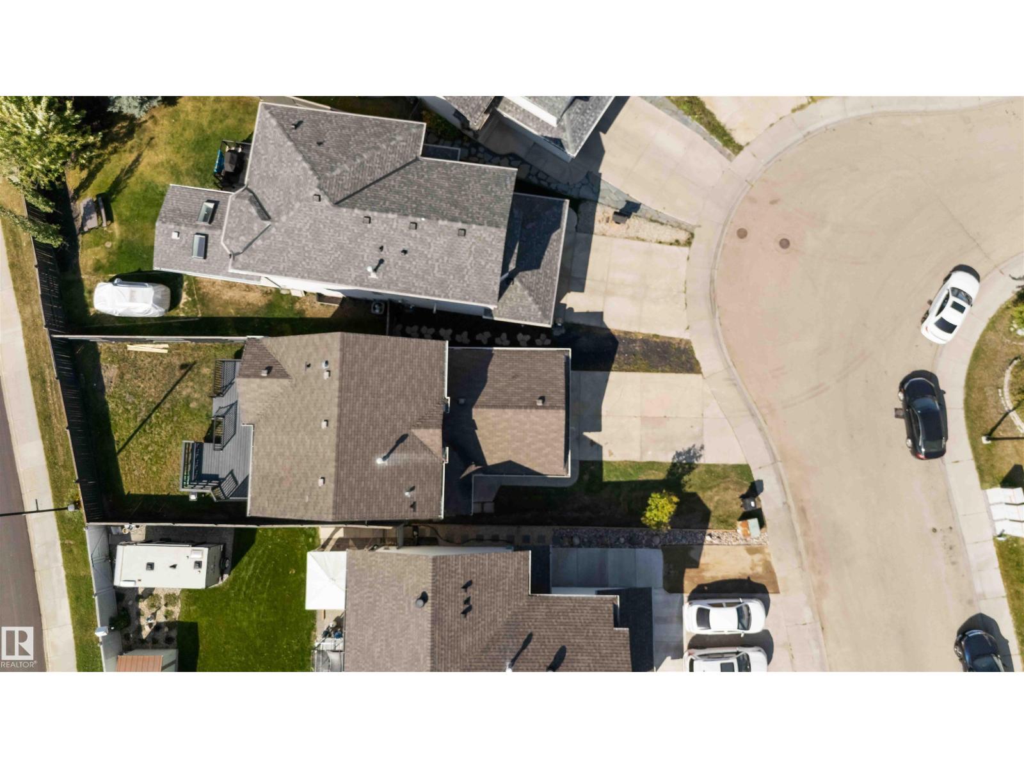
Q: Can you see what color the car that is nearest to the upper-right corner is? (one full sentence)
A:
The color of the car that is nearest to the upper-right corner is white.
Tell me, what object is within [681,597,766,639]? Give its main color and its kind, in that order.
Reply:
white car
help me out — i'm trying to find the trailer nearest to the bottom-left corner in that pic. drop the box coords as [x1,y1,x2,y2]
[114,539,239,589]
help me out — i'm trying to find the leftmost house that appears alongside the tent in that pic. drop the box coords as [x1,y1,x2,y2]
[238,332,451,521]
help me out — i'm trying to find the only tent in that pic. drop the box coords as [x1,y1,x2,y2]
[305,547,355,609]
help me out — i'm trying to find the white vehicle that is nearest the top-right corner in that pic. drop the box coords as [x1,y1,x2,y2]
[918,270,976,344]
